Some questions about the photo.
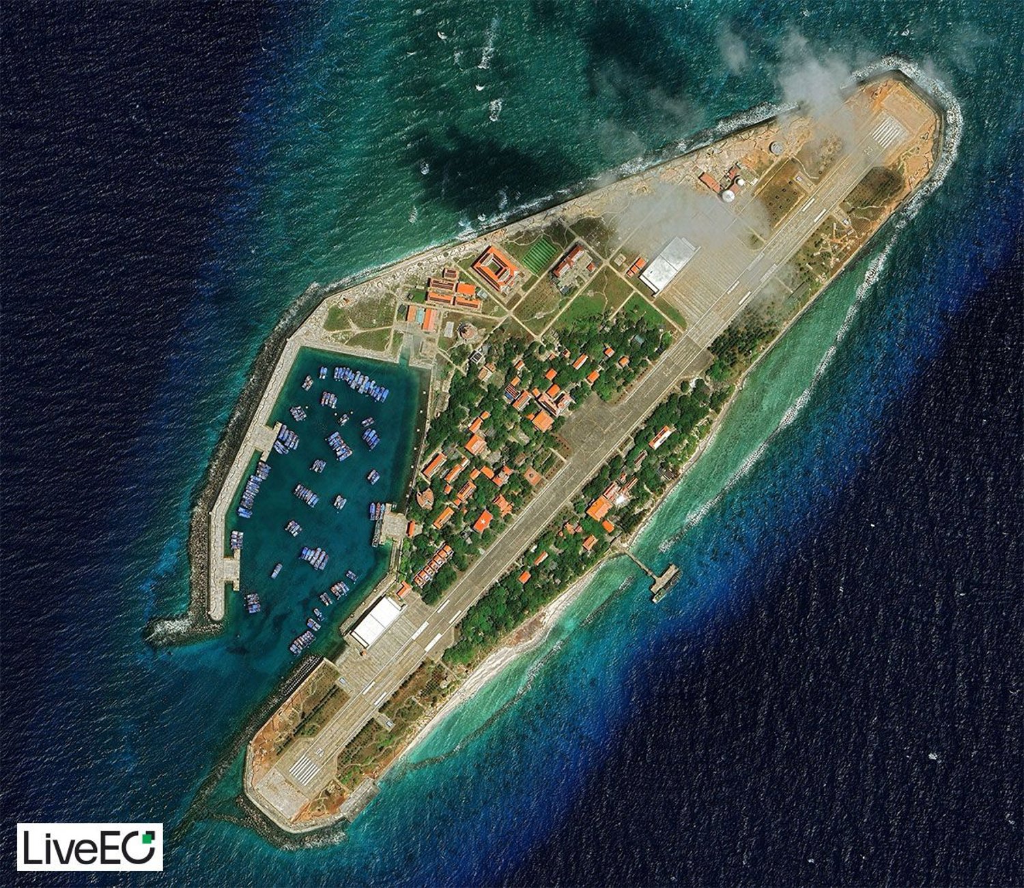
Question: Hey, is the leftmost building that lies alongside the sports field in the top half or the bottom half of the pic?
top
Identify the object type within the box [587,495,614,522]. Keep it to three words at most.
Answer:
building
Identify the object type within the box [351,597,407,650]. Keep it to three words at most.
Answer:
hangar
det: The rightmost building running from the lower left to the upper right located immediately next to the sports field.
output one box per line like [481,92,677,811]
[553,244,586,278]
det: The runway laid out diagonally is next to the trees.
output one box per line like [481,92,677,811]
[283,116,900,793]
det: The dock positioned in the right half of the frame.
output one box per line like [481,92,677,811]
[621,544,679,594]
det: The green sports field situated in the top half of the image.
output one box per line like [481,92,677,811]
[521,236,558,275]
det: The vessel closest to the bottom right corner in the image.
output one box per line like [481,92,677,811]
[652,571,683,605]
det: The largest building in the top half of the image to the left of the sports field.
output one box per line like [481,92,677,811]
[472,245,524,296]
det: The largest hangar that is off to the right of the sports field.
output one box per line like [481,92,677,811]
[640,236,701,297]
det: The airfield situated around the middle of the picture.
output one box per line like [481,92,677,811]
[256,83,936,819]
